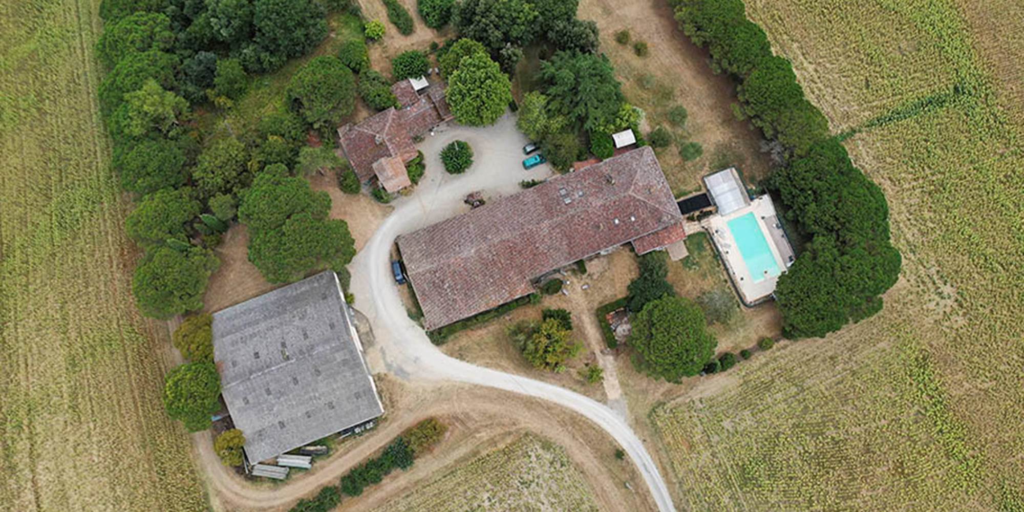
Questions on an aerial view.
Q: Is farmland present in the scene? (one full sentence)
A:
Yes, farmland can be seen from above here.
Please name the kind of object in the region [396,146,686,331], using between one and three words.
house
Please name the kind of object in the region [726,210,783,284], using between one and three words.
swimming pool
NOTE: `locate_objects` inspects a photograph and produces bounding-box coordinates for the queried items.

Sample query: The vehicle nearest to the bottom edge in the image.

[391,259,406,284]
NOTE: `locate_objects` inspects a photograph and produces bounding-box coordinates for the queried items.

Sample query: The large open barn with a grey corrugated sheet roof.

[213,271,385,465]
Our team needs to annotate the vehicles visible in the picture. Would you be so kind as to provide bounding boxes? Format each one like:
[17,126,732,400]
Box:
[523,141,545,155]
[523,154,547,169]
[391,259,406,284]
